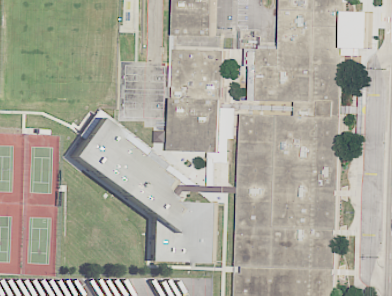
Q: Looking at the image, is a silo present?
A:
No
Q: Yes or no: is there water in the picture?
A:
No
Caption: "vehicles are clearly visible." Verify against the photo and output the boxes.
[99,280,111,296]
[178,280,190,296]
[90,280,102,296]
[50,280,62,296]
[107,280,119,296]
[25,280,37,296]
[16,280,28,296]
[58,280,70,296]
[116,280,128,296]
[0,280,12,296]
[169,280,181,296]
[33,280,45,296]
[162,280,173,296]
[41,280,53,296]
[66,280,78,296]
[124,280,136,296]
[75,280,87,296]
[152,280,164,296]
[8,280,20,296]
